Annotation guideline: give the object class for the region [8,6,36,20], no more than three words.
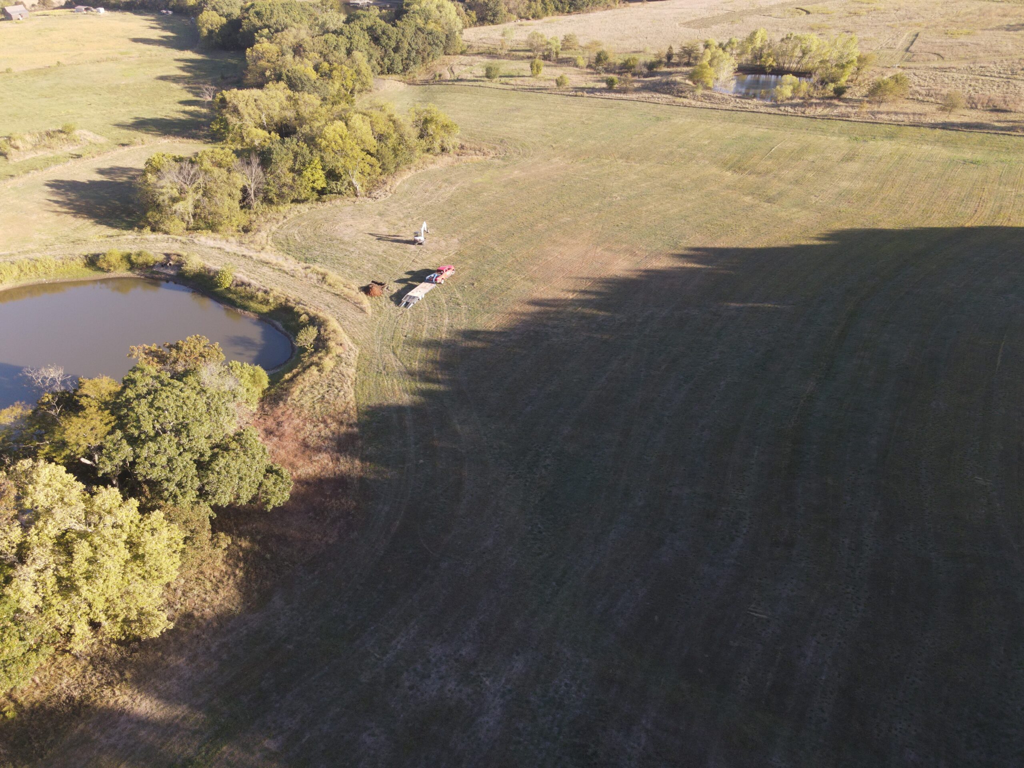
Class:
barn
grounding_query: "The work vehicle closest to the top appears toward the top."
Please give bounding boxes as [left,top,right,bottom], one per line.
[412,220,432,245]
